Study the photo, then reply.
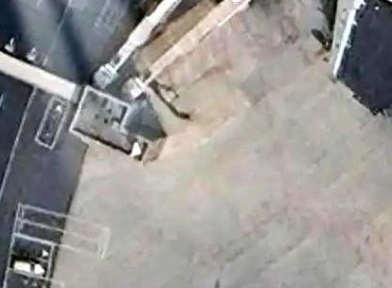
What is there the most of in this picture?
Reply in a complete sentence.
What you mostly see from above here is paved ground.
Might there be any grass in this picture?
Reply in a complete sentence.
No, the scene doesn't show any grass.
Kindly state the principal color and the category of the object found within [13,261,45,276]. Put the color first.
white vehicle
